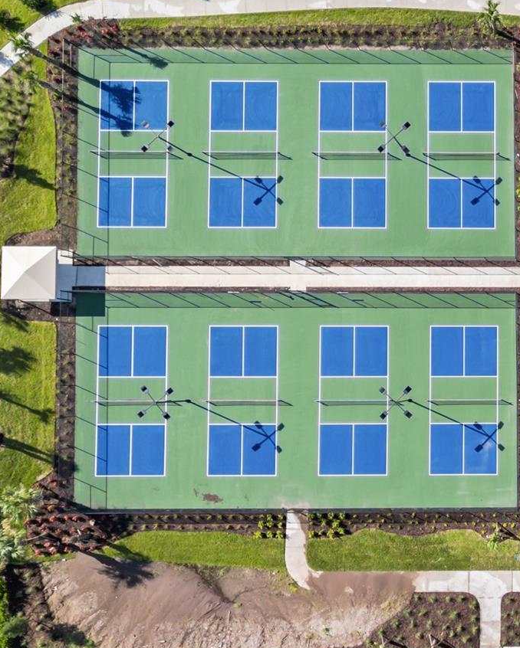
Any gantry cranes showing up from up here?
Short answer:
No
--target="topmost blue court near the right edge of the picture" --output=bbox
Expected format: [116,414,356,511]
[428,80,496,228]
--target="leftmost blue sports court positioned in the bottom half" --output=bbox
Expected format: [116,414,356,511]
[96,325,168,476]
